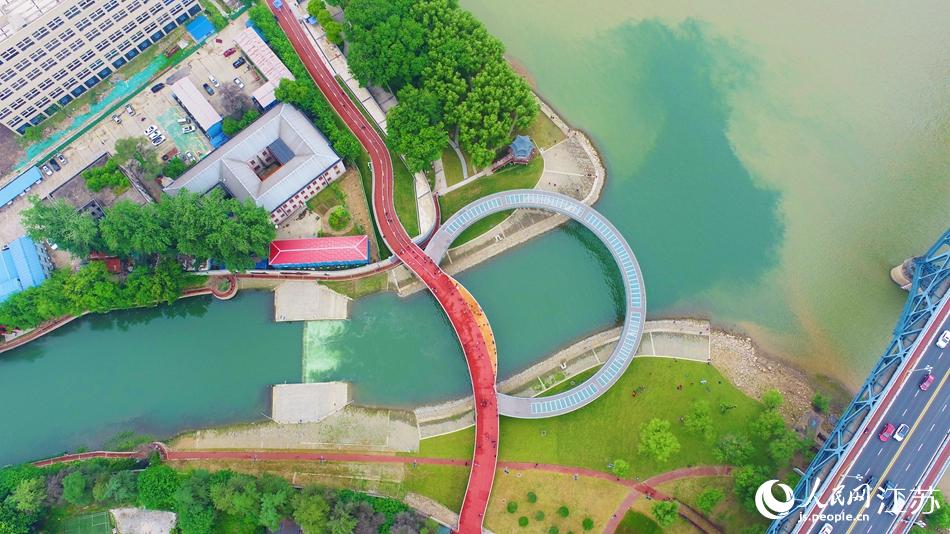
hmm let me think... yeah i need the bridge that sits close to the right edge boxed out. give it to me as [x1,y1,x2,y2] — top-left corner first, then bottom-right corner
[759,232,950,534]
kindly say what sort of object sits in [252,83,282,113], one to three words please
shed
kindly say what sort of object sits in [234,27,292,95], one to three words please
shed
